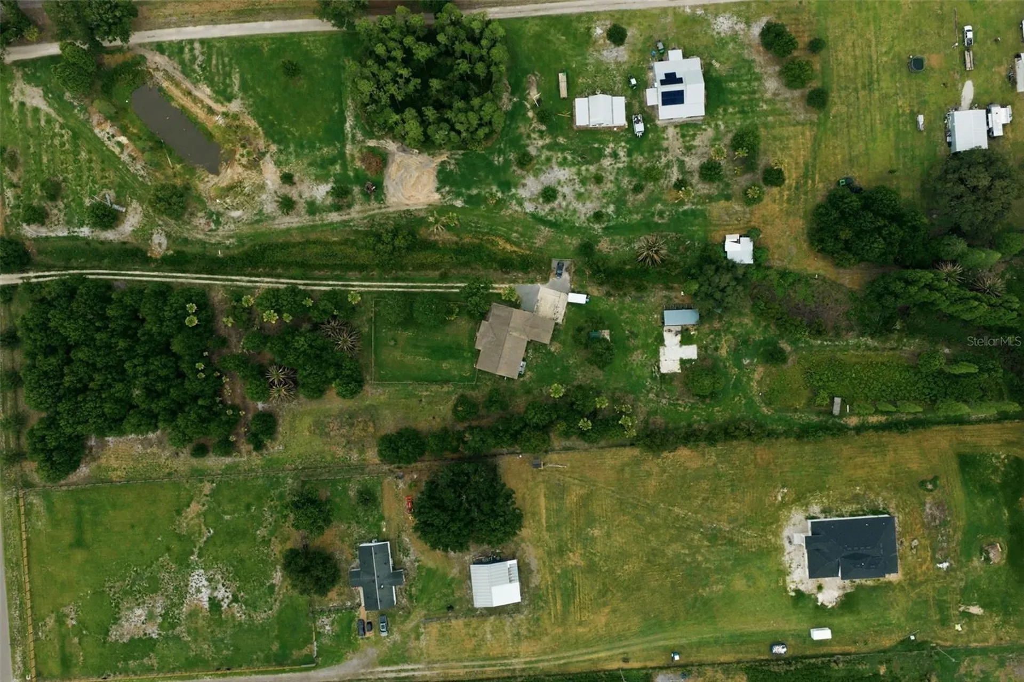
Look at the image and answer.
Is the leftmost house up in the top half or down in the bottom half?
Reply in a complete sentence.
You can find the leftmost house in the bottom half.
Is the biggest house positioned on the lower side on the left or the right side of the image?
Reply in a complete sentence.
The biggest house positioned on the lower side sits on the right side.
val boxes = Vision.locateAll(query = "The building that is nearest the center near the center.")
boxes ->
[476,303,555,379]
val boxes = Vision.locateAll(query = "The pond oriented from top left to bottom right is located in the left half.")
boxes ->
[135,85,222,176]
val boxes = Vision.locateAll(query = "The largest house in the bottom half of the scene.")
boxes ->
[802,514,898,580]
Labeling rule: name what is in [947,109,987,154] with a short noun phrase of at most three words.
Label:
barn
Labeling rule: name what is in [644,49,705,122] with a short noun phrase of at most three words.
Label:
house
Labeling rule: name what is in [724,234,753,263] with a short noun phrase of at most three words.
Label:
shed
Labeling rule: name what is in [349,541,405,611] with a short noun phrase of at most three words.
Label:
house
